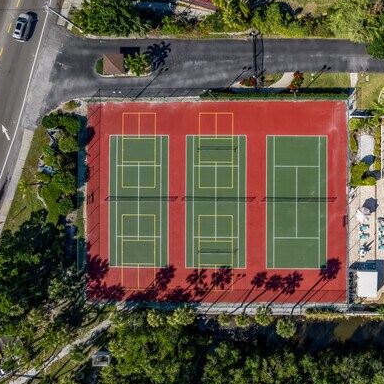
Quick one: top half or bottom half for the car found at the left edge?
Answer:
top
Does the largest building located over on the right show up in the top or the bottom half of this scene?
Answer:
bottom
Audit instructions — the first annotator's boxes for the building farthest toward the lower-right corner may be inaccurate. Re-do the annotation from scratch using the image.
[356,269,378,298]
